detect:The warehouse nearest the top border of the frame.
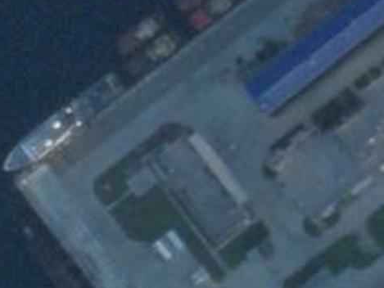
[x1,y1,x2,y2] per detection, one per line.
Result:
[245,0,384,112]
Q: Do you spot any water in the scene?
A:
Yes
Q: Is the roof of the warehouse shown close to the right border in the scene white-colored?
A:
No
